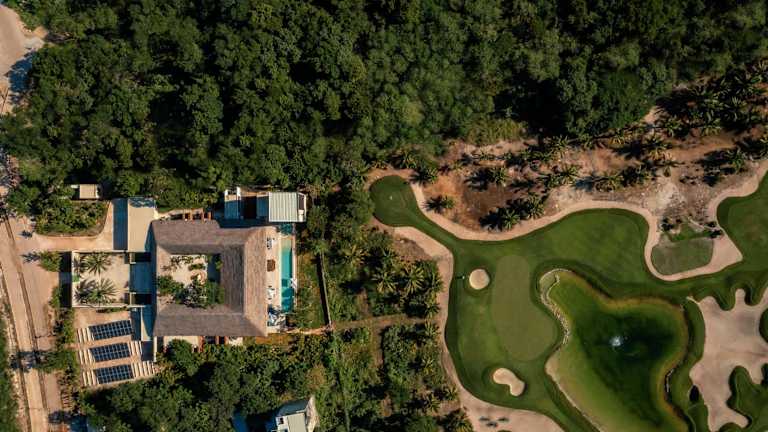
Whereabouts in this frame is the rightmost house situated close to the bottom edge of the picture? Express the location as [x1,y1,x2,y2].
[276,401,314,432]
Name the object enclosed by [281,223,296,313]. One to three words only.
swimming pool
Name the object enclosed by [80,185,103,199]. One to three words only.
shed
